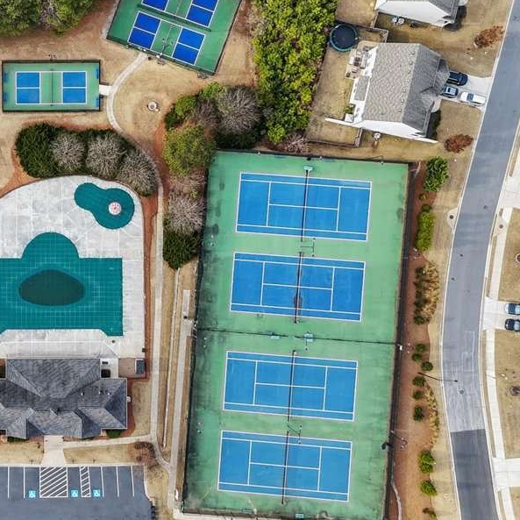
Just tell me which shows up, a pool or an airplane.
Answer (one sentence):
There is a pool in the scene.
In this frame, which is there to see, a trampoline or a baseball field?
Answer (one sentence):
I can see a trampoline in this picture.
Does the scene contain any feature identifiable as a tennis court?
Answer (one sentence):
Yes, looking at the shot, I can spot a tennis court.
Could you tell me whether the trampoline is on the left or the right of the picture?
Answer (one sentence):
It is on the right.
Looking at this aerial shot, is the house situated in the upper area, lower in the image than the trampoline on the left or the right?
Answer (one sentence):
You can find the house situated in the upper area, lower in the image than the trampoline on the right side of the picture.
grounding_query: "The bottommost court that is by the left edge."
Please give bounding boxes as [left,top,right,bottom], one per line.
[4,63,100,111]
